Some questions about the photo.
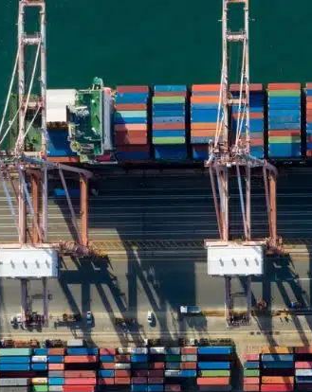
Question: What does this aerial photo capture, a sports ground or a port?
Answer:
port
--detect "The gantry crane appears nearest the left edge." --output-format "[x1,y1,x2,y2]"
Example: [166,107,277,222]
[0,0,115,331]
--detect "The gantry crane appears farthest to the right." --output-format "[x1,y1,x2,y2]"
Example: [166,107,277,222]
[202,0,295,331]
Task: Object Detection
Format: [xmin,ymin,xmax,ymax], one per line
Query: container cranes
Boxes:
[0,0,115,331]
[202,0,295,331]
